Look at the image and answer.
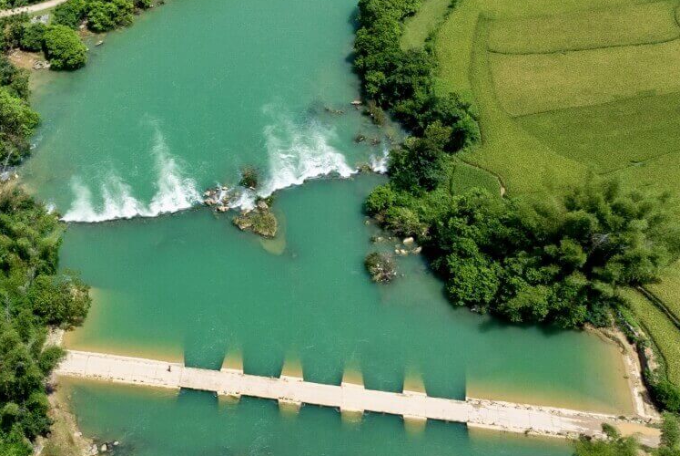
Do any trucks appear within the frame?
No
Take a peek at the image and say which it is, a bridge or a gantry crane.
bridge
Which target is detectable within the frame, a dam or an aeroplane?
dam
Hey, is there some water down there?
Yes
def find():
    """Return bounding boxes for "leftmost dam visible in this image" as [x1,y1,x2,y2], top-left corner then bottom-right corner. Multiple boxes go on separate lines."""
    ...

[57,169,388,223]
